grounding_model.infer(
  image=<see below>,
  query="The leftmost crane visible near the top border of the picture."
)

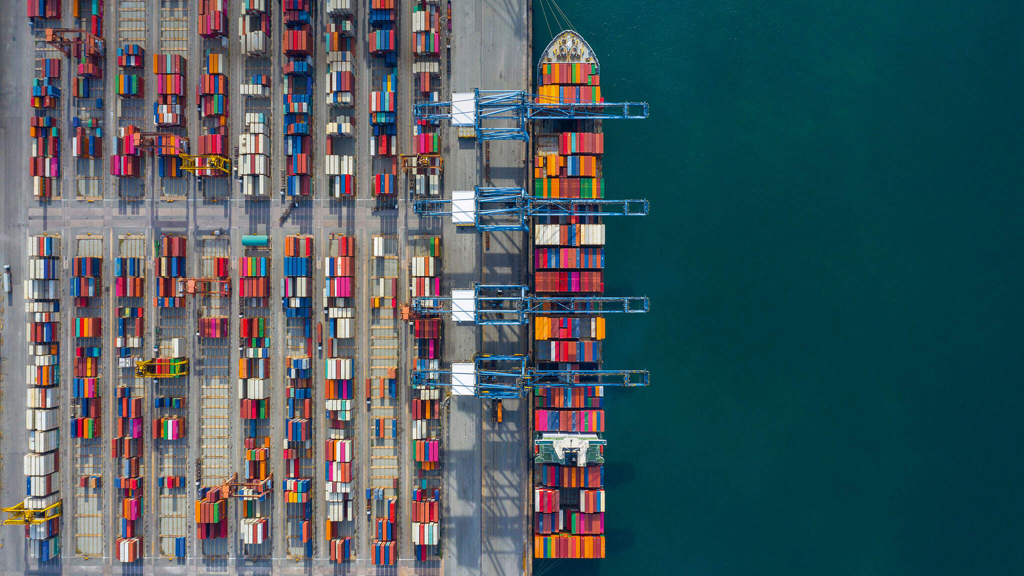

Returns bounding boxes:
[45,28,107,58]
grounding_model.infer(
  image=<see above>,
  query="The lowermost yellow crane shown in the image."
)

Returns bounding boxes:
[1,495,62,525]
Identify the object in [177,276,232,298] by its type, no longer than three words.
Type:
container crane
